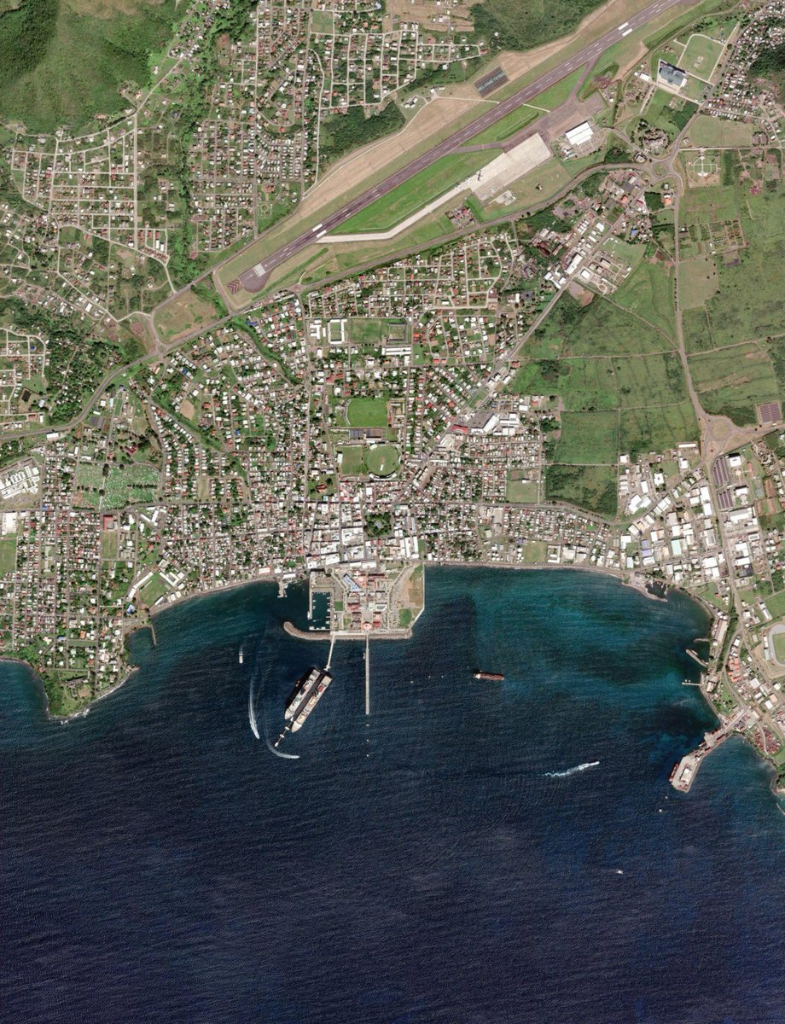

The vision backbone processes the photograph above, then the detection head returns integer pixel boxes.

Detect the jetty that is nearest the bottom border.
[672,710,757,792]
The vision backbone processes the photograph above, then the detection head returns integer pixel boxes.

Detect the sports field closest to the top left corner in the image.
[351,320,381,343]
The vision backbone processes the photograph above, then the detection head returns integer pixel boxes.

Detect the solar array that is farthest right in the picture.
[756,401,783,425]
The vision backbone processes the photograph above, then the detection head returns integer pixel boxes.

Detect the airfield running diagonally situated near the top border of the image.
[228,0,681,293]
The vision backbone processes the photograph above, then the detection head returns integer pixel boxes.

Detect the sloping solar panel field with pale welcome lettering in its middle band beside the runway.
[474,66,509,98]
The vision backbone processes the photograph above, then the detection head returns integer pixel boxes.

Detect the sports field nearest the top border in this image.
[680,35,723,79]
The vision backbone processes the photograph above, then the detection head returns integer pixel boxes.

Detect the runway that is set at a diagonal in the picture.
[230,0,679,293]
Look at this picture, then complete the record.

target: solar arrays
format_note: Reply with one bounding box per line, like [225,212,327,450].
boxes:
[756,401,783,425]
[474,66,509,98]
